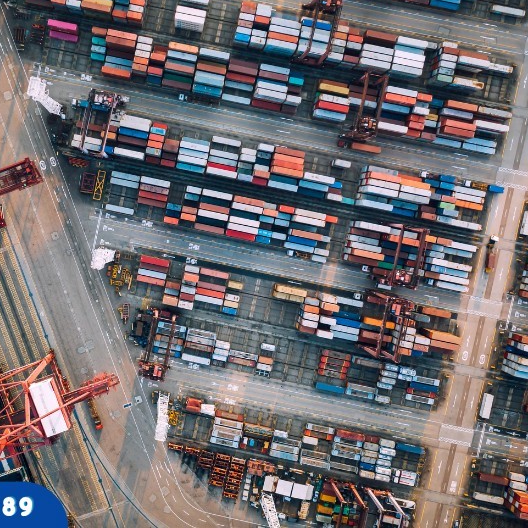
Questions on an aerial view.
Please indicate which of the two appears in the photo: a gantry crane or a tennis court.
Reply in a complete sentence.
There is a gantry crane in the scene.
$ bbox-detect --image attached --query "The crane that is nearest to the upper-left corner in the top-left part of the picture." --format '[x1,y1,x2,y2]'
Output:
[78,84,127,162]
